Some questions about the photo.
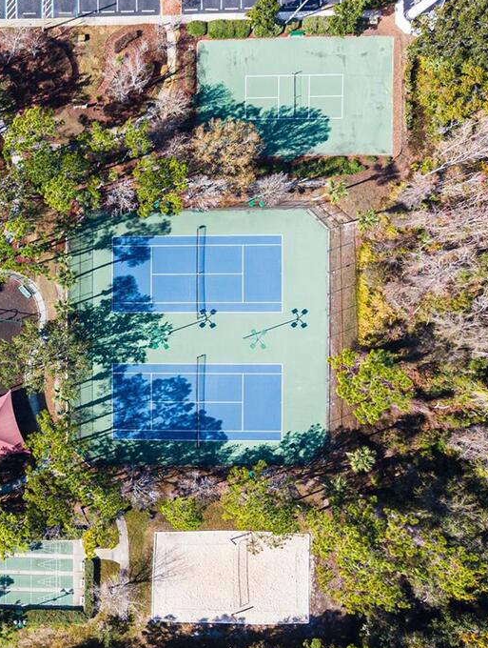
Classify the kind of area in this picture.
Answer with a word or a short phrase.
sports ground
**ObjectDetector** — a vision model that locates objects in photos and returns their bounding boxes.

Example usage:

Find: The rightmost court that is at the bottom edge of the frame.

[151,530,312,625]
